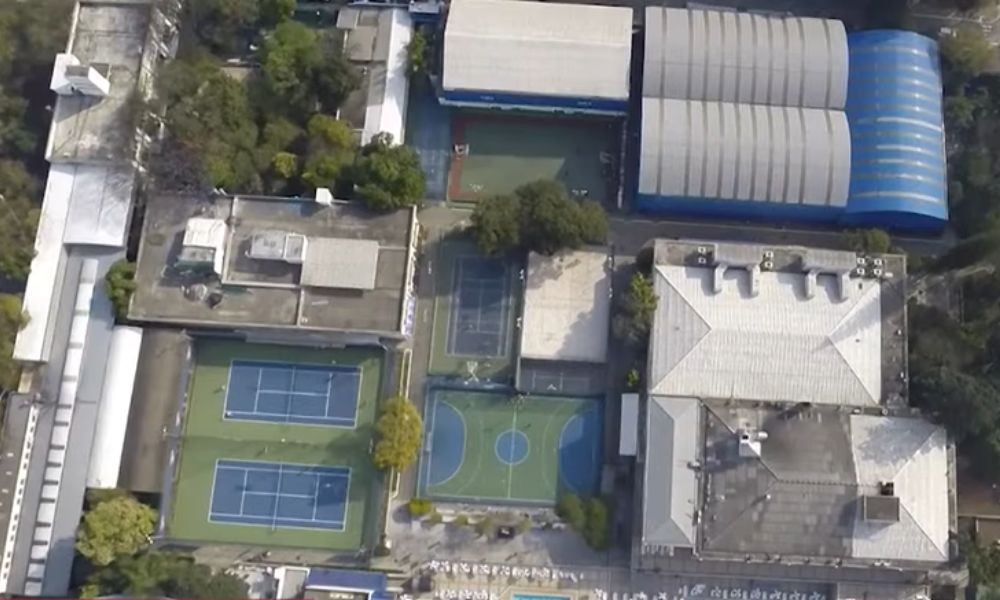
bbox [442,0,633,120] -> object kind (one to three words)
building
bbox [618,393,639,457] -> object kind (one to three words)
building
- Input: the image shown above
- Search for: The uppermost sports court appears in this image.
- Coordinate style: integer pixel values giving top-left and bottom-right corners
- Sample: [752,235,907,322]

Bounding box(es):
[446,111,621,212]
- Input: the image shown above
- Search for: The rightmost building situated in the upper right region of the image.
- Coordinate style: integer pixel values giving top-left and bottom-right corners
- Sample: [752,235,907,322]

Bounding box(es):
[833,29,949,232]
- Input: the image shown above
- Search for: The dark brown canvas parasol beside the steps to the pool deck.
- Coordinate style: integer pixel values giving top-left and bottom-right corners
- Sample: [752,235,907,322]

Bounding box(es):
[417,568,439,592]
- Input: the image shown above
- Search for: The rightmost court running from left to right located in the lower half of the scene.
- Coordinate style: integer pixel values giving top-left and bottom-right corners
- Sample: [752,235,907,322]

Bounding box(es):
[517,350,605,391]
